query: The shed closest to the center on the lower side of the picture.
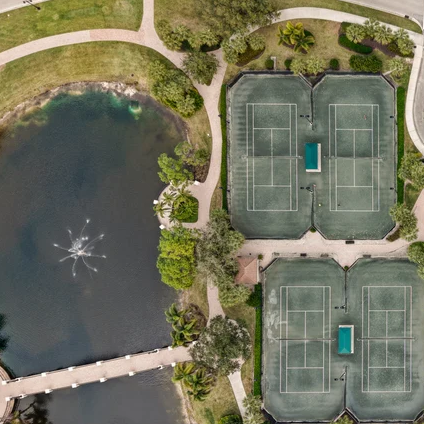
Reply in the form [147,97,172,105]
[236,256,261,284]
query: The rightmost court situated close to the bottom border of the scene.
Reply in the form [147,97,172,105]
[346,259,424,421]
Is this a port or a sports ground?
sports ground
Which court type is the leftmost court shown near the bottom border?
tennis court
